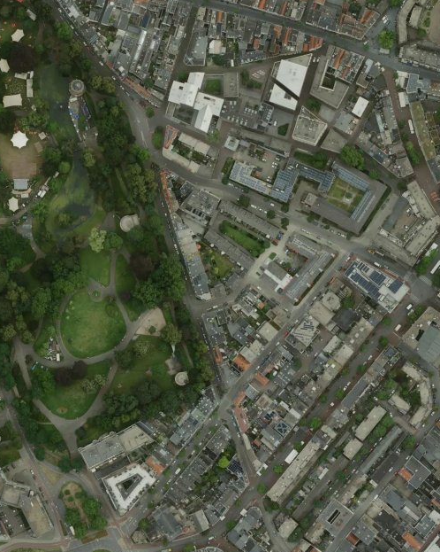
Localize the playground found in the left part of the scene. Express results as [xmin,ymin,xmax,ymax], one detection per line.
[136,309,166,336]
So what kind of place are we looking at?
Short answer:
residential area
